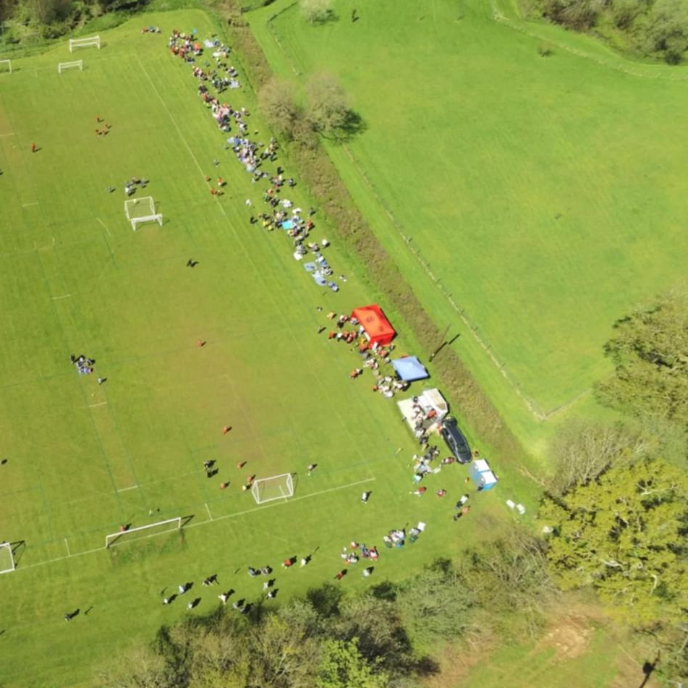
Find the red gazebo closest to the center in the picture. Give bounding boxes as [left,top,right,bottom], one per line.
[350,304,395,348]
